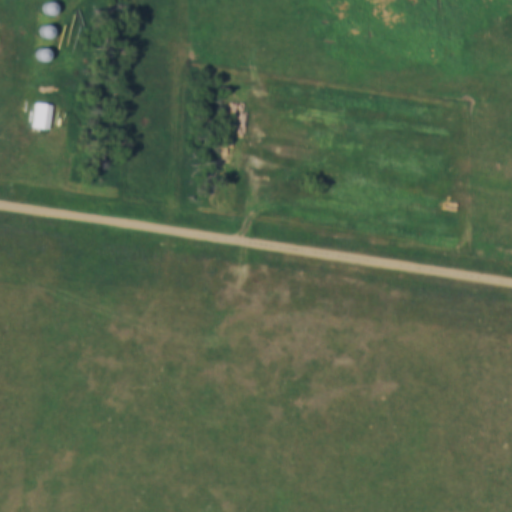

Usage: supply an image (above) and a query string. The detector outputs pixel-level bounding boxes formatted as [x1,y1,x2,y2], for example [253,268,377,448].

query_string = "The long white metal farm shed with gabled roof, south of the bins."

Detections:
[32,102,53,130]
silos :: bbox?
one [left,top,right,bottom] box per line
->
[39,24,57,40]
[42,0,60,16]
[36,48,54,64]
